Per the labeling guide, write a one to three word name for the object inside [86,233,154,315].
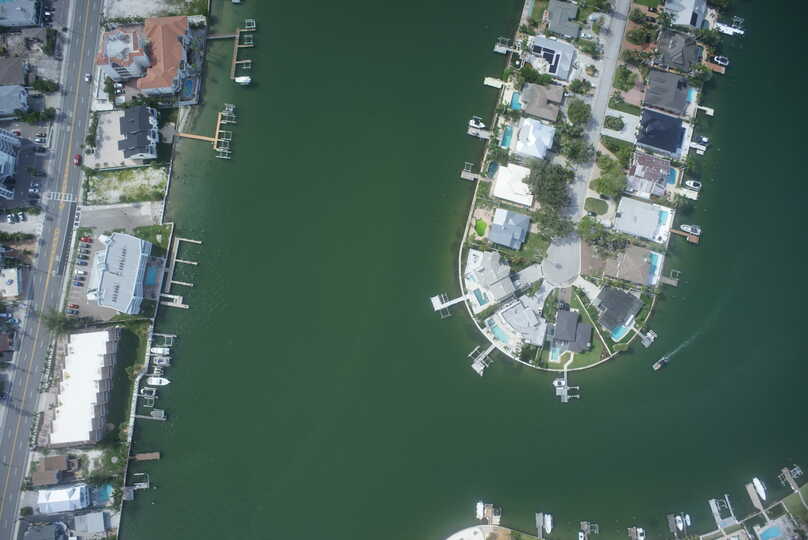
building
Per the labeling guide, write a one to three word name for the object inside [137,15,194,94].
house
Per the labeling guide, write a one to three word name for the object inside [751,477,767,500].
boat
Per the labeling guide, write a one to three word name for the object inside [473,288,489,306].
swimming pool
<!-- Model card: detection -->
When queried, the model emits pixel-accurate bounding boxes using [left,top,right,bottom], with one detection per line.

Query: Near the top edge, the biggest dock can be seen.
[208,27,257,80]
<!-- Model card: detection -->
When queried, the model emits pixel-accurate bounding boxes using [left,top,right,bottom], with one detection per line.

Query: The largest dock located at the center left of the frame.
[163,237,203,293]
